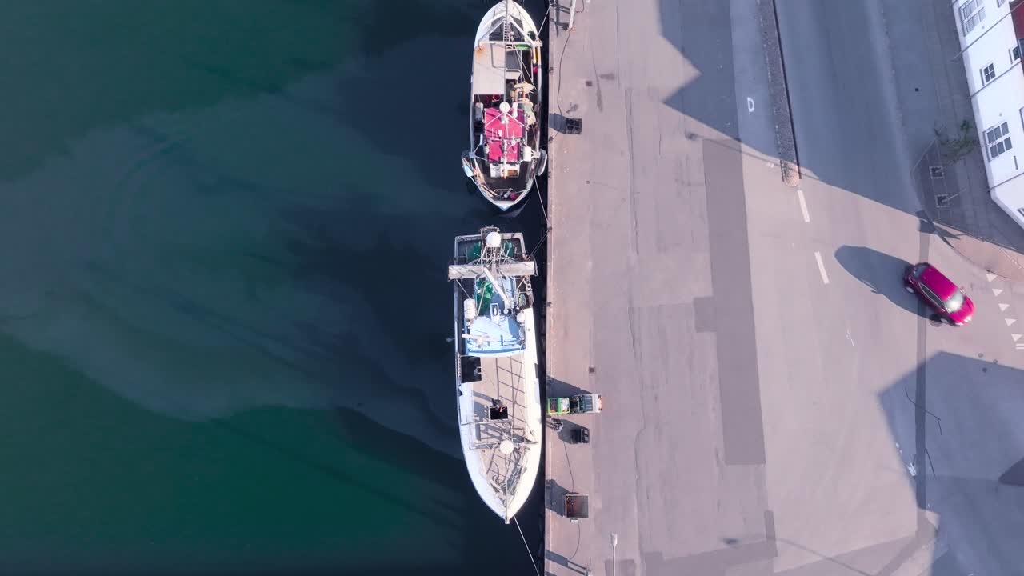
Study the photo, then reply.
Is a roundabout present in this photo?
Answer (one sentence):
No, I can see no roundabout in this picture.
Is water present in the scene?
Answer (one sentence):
Yes, there is water in the image.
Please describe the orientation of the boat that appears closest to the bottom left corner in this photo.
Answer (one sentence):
The boat that appears closest to the bottom left corner is laid out vertically.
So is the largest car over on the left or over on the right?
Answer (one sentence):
The largest car is on the right side of the image.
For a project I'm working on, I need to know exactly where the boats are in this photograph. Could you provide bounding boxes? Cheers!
[461,0,548,211]
[447,224,542,526]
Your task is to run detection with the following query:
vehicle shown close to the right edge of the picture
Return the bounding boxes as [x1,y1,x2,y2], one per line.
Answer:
[903,262,976,327]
